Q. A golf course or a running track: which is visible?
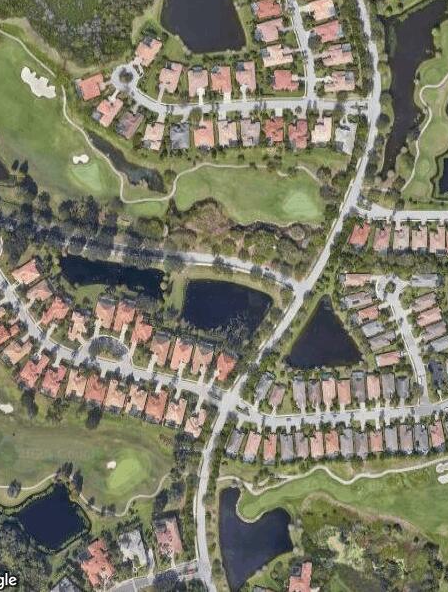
golf course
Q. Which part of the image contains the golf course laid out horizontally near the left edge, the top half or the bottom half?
bottom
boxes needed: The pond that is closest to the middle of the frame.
[182,278,273,338]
